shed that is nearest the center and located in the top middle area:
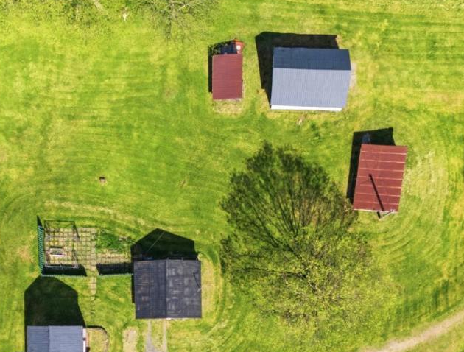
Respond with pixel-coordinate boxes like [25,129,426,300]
[212,53,243,104]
